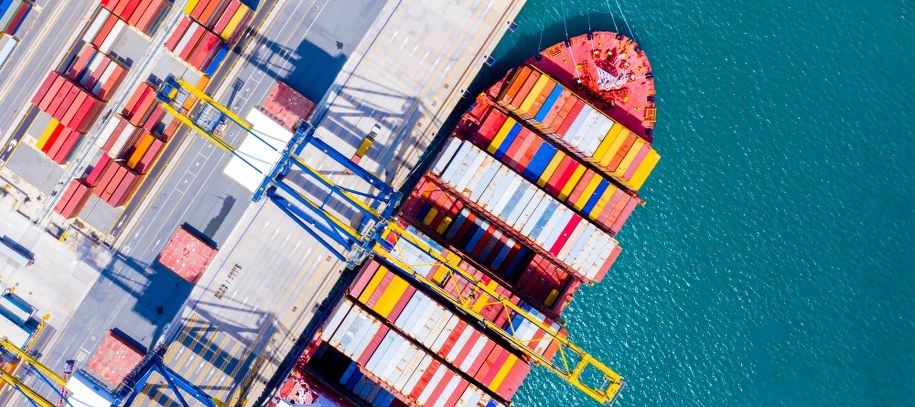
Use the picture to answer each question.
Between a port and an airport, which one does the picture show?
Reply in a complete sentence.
The picture captures a port.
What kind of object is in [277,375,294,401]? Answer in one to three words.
boat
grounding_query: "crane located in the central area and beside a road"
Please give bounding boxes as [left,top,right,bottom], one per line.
[149,72,628,407]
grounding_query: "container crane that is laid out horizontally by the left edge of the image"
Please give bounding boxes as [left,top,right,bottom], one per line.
[0,332,257,407]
